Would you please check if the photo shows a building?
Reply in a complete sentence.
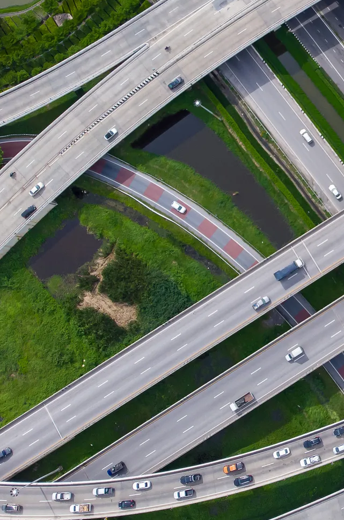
No, the picture doesn't show any building.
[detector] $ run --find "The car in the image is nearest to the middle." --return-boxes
[171,200,187,214]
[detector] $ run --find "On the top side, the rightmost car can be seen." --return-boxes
[328,185,342,200]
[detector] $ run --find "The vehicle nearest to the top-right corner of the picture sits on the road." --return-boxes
[299,128,314,144]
